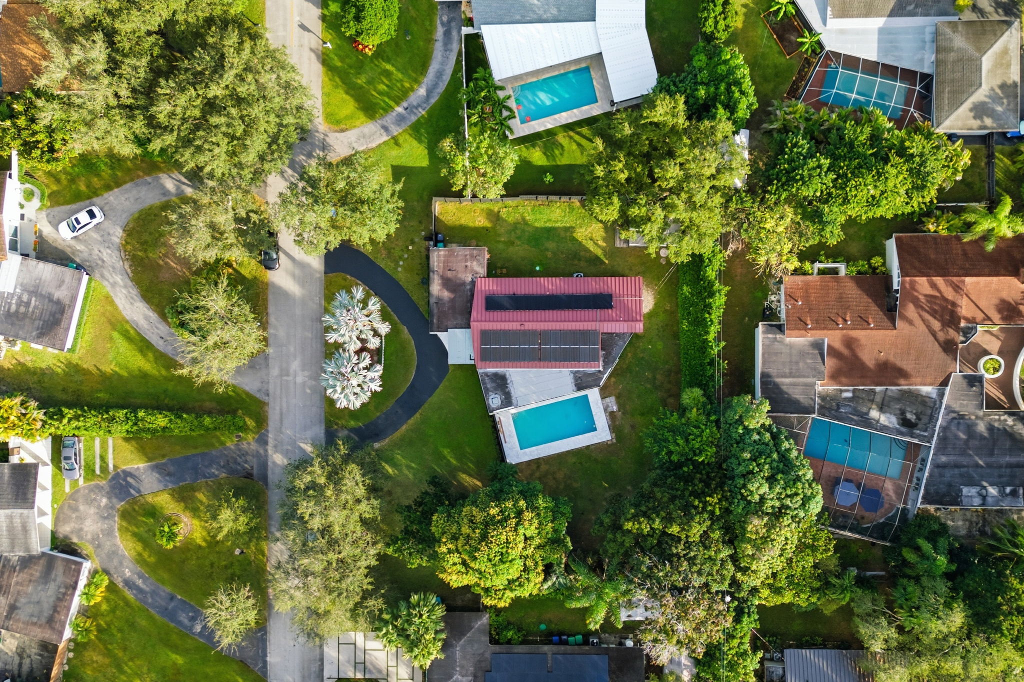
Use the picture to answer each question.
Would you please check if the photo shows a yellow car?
No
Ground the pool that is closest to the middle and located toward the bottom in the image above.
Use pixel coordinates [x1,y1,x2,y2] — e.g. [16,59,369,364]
[508,391,599,453]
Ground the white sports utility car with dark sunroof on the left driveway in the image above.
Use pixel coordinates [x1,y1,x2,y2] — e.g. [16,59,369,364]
[58,205,106,240]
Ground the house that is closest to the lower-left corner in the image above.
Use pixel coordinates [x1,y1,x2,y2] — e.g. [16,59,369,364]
[0,549,102,645]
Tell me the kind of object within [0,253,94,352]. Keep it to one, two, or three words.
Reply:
house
